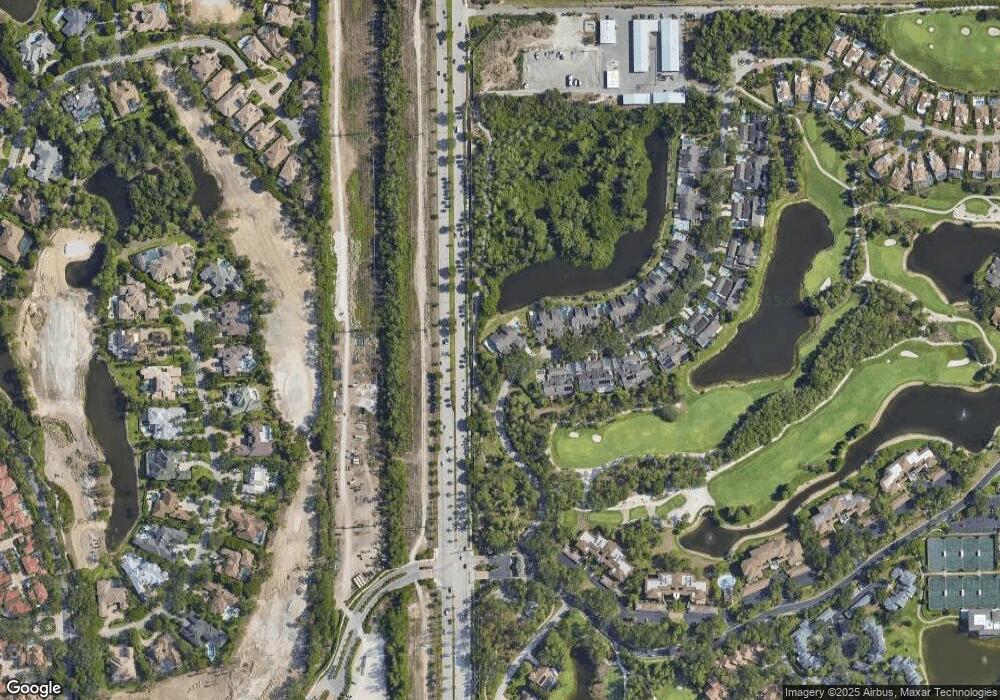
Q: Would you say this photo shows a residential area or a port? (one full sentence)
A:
The area seen from above is a residential area.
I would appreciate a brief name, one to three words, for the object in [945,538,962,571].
tennis court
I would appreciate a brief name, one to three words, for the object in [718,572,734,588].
swimming pool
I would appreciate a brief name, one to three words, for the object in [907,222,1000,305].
pond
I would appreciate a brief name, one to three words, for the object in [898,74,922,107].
house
